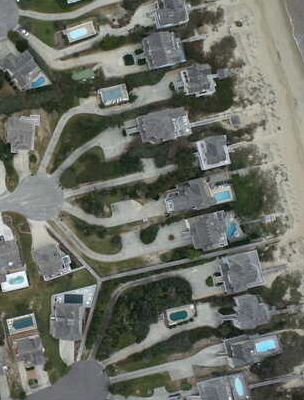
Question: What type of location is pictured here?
residential area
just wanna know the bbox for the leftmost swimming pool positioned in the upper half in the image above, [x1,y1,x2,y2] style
[26,71,52,91]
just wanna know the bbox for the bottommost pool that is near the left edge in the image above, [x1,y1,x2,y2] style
[6,312,37,335]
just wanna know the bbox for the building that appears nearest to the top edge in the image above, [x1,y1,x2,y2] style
[146,0,190,29]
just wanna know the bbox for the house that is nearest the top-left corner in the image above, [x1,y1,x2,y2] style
[0,50,42,91]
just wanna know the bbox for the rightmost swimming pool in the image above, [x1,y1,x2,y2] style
[254,336,277,353]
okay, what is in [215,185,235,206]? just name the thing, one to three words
swimming pool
